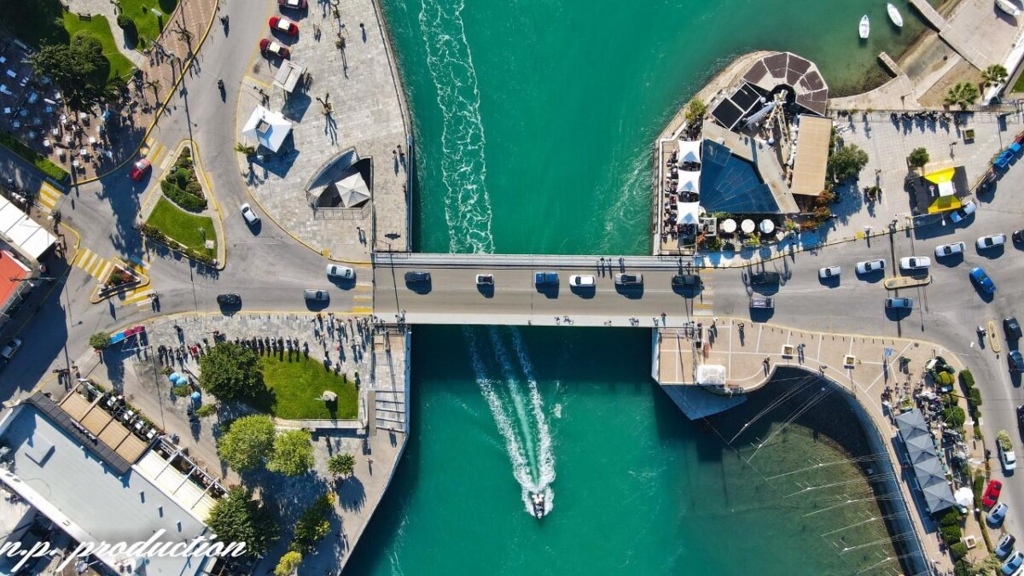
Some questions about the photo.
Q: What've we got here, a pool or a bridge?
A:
bridge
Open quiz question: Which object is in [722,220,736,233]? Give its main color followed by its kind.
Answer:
white umbrella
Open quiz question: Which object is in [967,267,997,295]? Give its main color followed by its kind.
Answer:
blue car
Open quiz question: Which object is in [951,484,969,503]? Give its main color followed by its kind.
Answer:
white umbrella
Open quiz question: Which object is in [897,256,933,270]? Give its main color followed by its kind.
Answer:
white vehicle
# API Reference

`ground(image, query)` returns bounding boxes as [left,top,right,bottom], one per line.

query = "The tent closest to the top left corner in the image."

[247,107,299,157]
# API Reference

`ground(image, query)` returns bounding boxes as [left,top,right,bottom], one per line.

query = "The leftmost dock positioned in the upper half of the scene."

[826,52,914,108]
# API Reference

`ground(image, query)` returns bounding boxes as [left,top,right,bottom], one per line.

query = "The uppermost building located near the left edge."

[0,236,65,360]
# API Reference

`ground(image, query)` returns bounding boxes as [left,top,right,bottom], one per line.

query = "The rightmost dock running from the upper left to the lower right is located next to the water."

[903,0,949,35]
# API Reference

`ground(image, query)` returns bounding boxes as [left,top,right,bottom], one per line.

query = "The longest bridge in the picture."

[372,253,695,328]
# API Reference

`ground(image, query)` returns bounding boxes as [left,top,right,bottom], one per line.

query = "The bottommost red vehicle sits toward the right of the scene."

[983,479,1001,508]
